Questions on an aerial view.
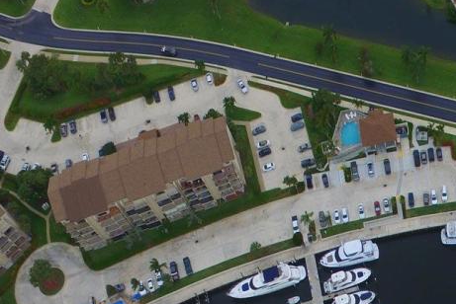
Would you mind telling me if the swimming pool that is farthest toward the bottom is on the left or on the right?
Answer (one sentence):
The swimming pool that is farthest toward the bottom is on the right side of the image.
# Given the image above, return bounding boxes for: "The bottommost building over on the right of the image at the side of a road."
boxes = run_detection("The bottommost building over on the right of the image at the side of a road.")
[361,114,396,153]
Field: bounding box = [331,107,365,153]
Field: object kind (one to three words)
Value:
swimming pool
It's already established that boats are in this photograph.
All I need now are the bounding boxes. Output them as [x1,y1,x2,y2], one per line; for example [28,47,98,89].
[227,262,309,296]
[436,224,456,247]
[319,242,383,268]
[323,268,370,294]
[328,284,375,304]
